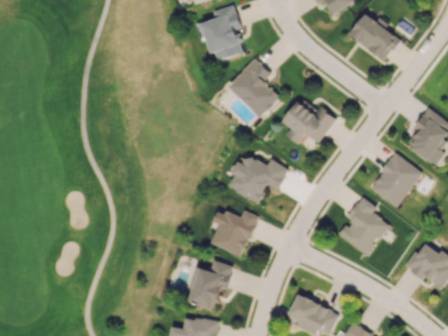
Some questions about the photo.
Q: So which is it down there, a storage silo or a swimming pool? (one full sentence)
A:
Of the two, only a swimming pool appears.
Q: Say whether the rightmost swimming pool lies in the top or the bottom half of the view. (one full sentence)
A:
The rightmost swimming pool sits in the top half of the picture.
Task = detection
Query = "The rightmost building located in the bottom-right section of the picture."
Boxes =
[407,244,448,288]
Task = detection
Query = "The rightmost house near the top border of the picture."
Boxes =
[350,14,400,63]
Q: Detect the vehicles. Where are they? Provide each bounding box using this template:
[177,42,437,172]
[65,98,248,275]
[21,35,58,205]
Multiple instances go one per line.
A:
[381,145,393,154]
[293,170,305,179]
[240,3,252,10]
[418,42,430,55]
[330,290,338,303]
[260,51,272,62]
[374,154,384,165]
